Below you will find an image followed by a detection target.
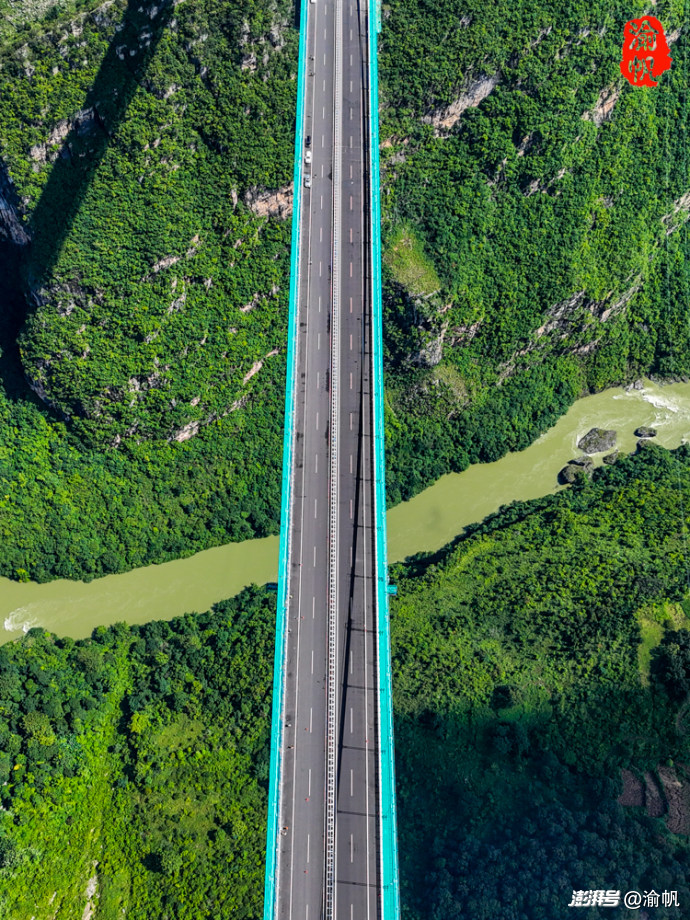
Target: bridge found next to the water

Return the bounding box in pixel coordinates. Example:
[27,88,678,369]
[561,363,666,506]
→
[262,0,399,920]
